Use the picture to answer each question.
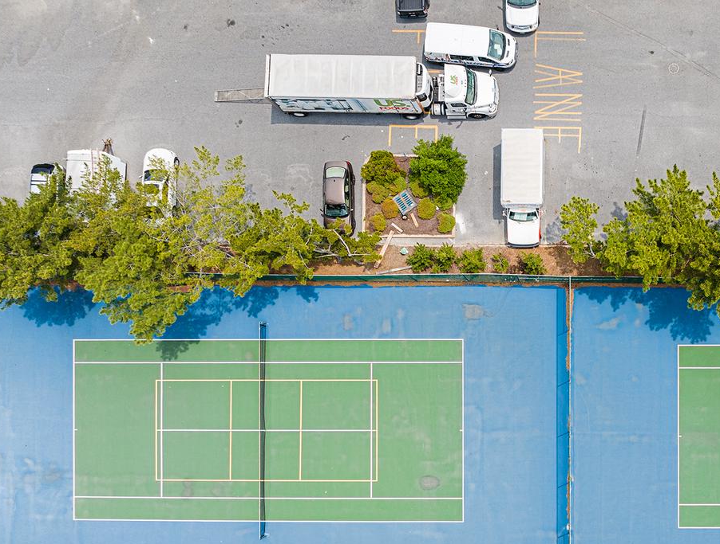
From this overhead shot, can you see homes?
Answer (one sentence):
No, no home is visible in the scene.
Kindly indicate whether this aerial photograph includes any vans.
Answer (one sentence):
Yes, a van can be made out from above.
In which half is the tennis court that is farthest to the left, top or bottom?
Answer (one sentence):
Seen from above, the tennis court that is farthest to the left lies in the bottom half of the view.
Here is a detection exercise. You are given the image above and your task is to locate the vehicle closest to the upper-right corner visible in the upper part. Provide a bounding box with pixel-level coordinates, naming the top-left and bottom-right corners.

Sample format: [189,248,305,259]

[501,0,543,34]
